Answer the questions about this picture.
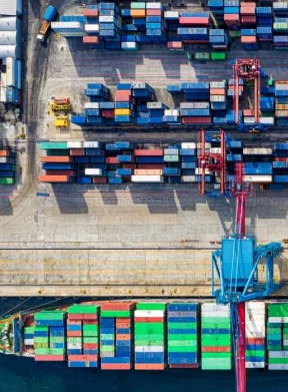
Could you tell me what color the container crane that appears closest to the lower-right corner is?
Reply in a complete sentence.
In this view, the container crane that appears closest to the lower-right corner is blue.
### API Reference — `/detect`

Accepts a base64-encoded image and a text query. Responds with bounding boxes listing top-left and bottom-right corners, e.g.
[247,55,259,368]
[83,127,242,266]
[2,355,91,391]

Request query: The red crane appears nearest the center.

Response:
[198,130,238,199]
